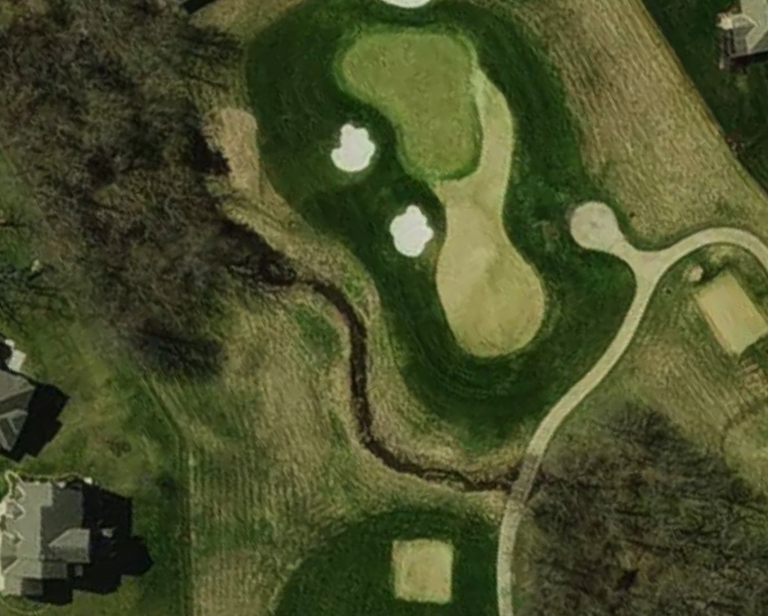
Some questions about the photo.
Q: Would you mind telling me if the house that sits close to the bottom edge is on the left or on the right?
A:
left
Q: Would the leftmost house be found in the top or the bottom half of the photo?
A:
bottom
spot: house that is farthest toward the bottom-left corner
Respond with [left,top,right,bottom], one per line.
[0,481,110,596]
